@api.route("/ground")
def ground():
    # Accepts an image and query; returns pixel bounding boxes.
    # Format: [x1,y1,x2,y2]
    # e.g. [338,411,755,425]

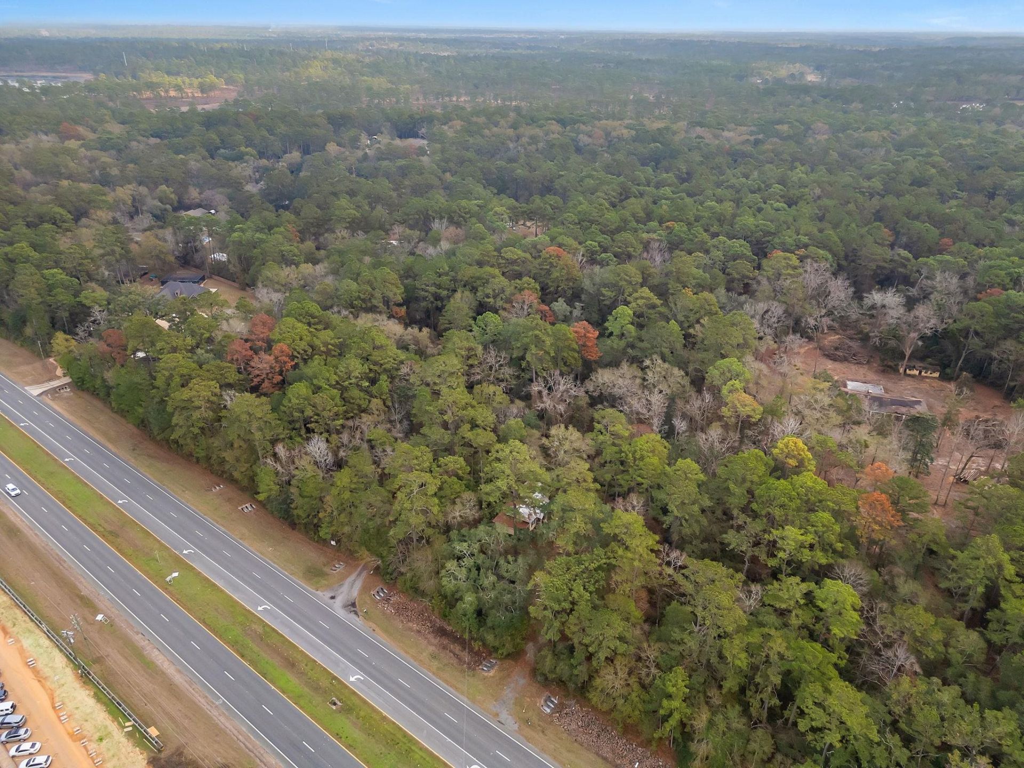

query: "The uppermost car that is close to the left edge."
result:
[4,482,18,494]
